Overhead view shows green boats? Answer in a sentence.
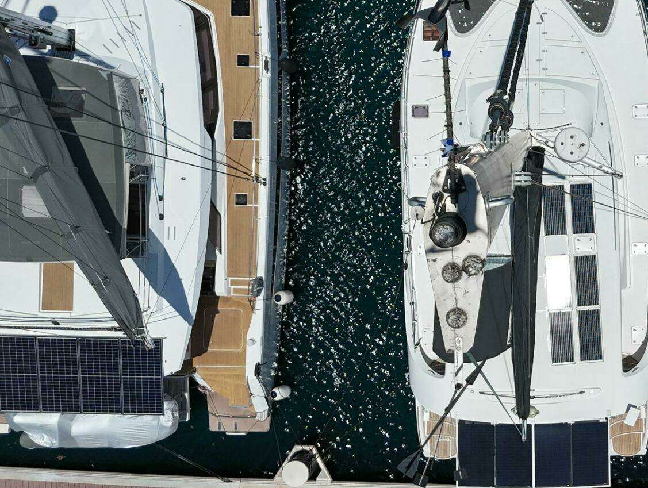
No, the scene contains no green boat.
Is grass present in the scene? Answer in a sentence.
No, grass can't be seen anywhere here.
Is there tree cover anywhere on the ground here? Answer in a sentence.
No, the scene doesn't show any tree cover.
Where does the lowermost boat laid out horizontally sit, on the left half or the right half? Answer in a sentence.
You can find the lowermost boat laid out horizontally on the left side of the picture.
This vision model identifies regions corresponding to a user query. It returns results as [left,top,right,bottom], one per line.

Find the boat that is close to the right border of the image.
[397,0,648,488]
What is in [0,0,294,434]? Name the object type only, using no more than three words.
boat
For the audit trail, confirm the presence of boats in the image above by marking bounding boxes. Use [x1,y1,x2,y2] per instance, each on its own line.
[397,0,648,488]
[0,0,294,434]
[0,388,179,450]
